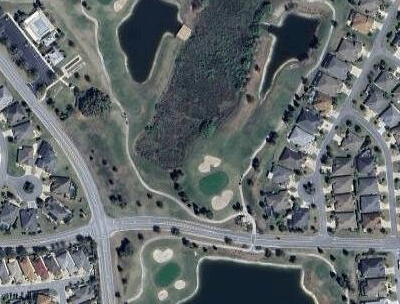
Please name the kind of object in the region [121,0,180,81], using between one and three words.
pond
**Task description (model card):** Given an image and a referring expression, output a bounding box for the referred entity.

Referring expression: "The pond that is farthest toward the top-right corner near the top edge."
[262,15,318,95]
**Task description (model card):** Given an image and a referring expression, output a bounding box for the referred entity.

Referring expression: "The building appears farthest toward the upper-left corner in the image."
[22,10,56,43]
